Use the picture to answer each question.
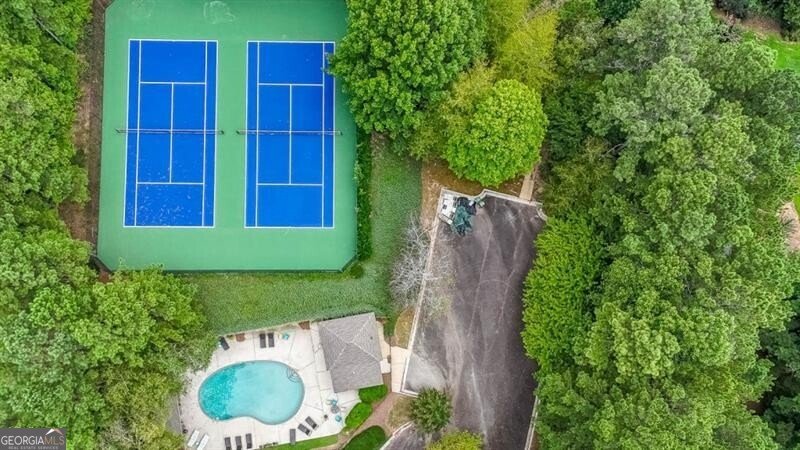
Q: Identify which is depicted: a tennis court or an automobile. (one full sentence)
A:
It is a tennis court that can be seen here.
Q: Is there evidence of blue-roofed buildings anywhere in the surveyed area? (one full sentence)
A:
No, the scene contains no blue-roofed building.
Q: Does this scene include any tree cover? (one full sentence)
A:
Yes, tree cover shows up in the scene.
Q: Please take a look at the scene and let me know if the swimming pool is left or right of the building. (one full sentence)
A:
It is on the left side of the building that the swimming pool is positioned.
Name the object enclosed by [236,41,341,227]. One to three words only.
tennis court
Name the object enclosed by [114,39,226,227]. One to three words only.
tennis court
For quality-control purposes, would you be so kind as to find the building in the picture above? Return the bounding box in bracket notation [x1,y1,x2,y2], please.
[318,312,384,392]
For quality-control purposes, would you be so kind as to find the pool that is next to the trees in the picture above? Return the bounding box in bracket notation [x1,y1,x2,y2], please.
[196,359,306,427]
